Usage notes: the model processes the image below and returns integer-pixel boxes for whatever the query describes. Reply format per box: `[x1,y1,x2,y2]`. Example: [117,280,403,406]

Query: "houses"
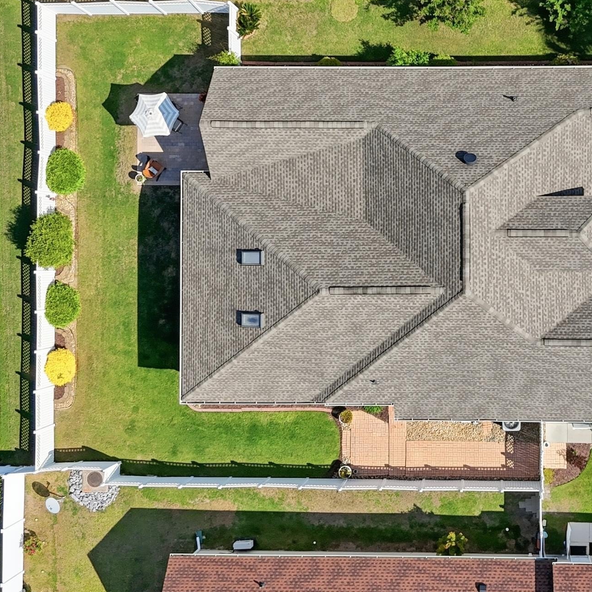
[162,537,592,592]
[178,64,592,426]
